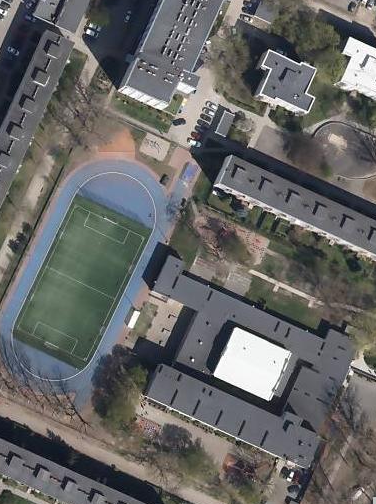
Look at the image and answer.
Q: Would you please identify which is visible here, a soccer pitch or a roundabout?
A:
soccer pitch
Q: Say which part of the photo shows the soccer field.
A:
left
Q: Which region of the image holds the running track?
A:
left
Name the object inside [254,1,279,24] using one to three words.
shed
